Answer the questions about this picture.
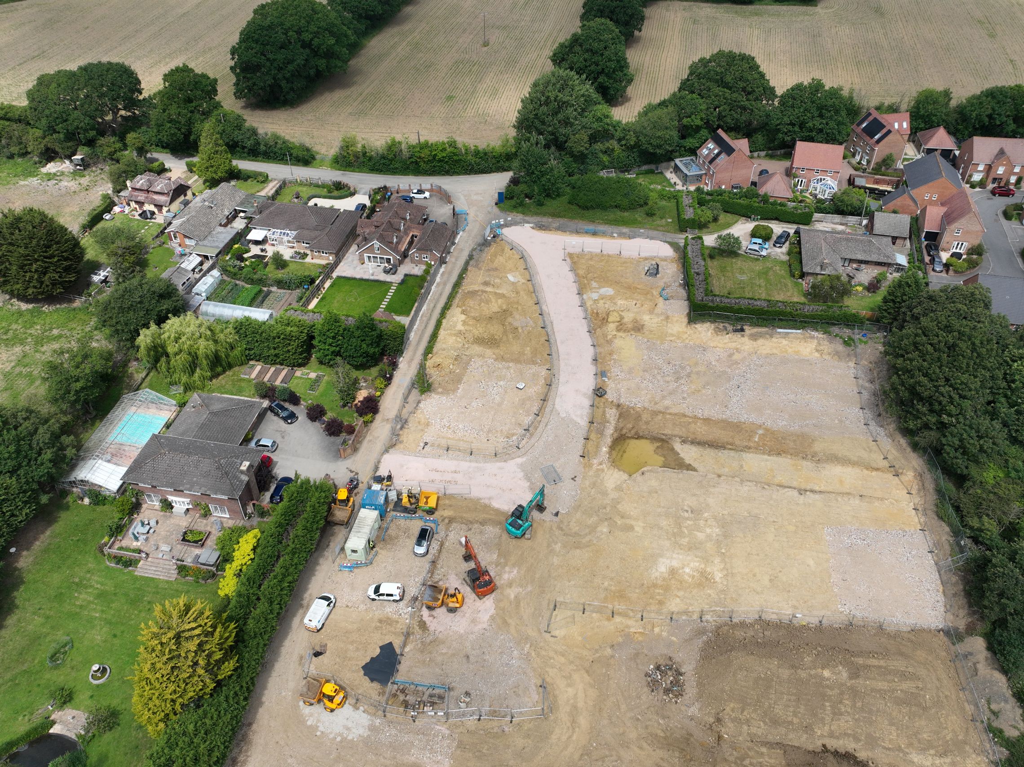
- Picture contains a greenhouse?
Yes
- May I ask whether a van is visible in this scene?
Yes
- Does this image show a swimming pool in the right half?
No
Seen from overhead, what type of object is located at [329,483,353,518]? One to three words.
truck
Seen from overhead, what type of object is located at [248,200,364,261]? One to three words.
house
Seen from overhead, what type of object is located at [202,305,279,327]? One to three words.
greenhouse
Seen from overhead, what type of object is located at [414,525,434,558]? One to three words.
car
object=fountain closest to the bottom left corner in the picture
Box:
[87,661,111,683]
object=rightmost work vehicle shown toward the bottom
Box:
[506,482,547,543]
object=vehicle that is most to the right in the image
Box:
[990,183,1015,197]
